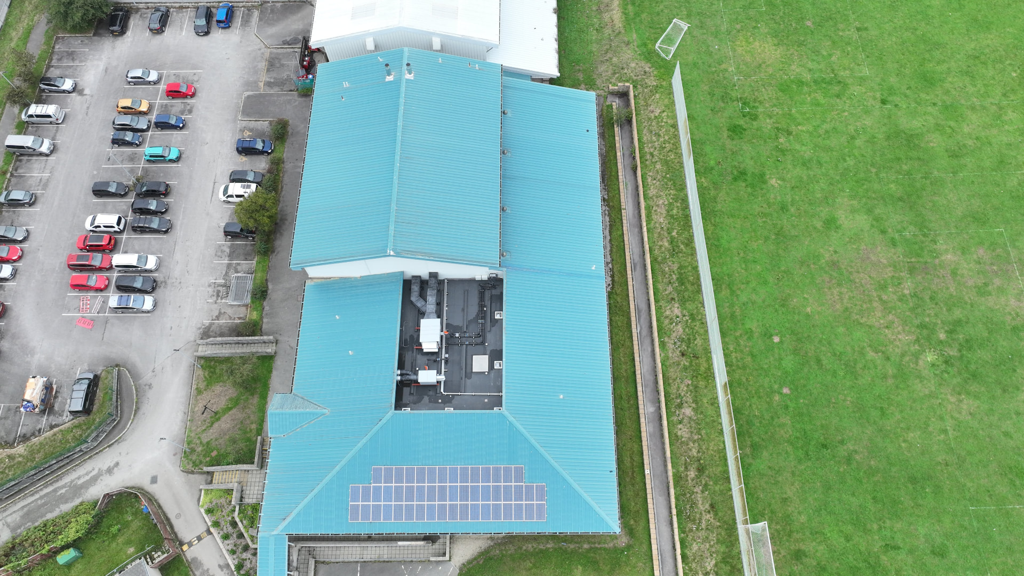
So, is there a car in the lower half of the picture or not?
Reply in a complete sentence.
Yes, you'll find a car in the lower half of the picture.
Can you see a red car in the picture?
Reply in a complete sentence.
Yes, a red car can be made out from above.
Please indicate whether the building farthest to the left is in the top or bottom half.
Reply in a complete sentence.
It is in the bottom half that the building farthest to the left appears.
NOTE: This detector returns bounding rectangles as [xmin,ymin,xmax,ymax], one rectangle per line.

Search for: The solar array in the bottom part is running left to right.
[348,467,547,521]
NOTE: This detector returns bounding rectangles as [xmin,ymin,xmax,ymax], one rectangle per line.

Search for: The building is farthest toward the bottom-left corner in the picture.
[54,545,84,568]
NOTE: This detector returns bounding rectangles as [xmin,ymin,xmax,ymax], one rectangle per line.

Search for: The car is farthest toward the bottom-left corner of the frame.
[66,371,101,419]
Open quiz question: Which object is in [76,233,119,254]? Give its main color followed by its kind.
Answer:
red car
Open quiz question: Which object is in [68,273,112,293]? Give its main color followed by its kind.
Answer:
red car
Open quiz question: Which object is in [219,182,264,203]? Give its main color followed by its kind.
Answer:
white vehicle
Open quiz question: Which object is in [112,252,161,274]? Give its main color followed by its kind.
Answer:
white car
